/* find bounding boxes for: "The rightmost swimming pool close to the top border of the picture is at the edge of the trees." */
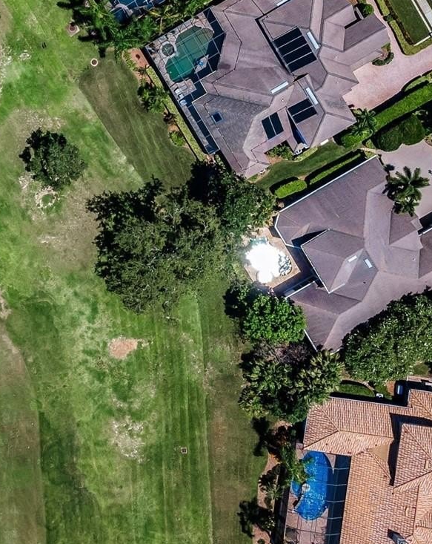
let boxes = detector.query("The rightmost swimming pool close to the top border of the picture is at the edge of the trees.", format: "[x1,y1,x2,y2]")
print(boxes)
[160,26,215,84]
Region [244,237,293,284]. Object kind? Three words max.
swimming pool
